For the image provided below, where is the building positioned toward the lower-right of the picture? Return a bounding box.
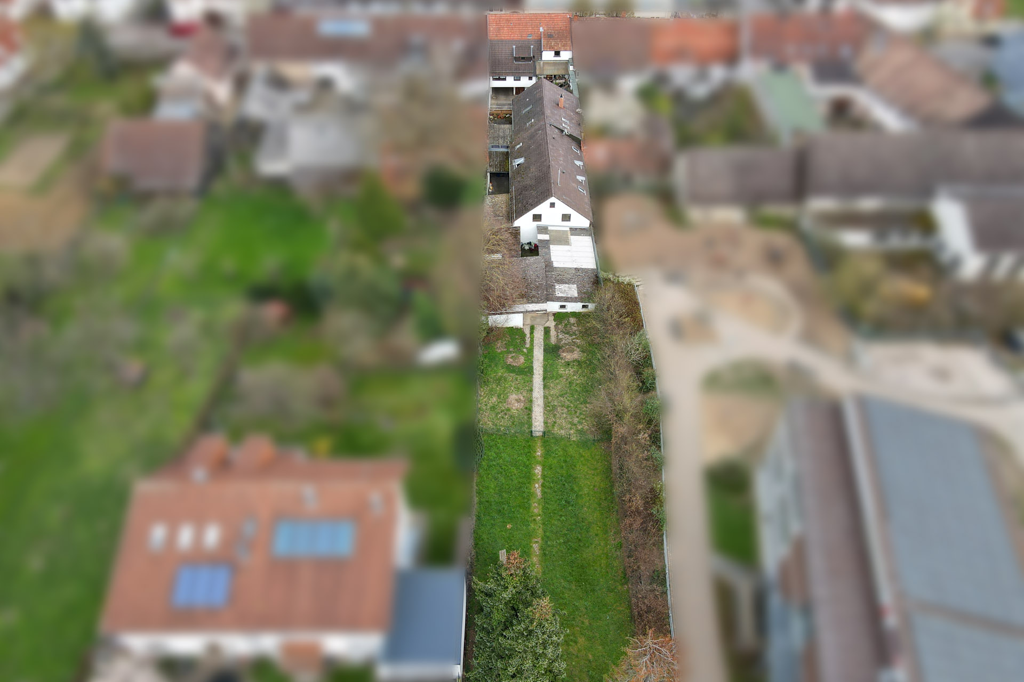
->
[778,395,1024,682]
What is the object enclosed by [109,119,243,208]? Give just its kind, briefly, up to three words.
barn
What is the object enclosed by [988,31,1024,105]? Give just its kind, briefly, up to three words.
building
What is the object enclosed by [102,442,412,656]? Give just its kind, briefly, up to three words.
house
